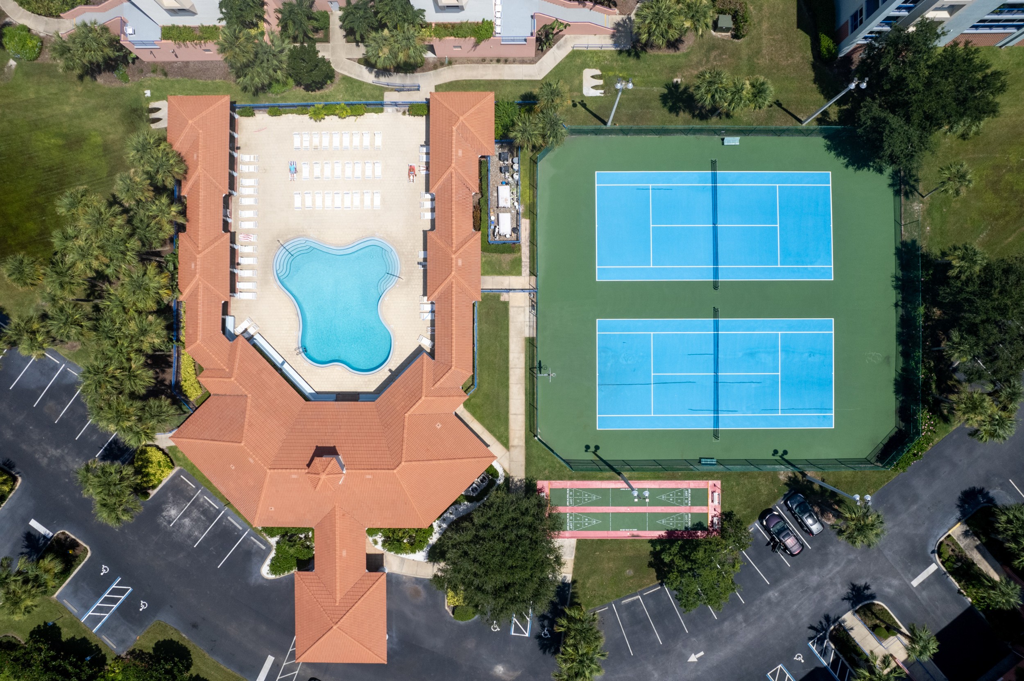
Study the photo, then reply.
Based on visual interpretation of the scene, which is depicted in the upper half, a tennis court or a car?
tennis court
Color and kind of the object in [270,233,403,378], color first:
blue swimming pool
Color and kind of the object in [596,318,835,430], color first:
blue tennis court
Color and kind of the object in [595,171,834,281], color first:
blue tennis court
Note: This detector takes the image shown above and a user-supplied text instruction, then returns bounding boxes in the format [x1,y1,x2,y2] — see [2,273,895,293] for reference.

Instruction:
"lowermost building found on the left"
[166,91,497,665]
